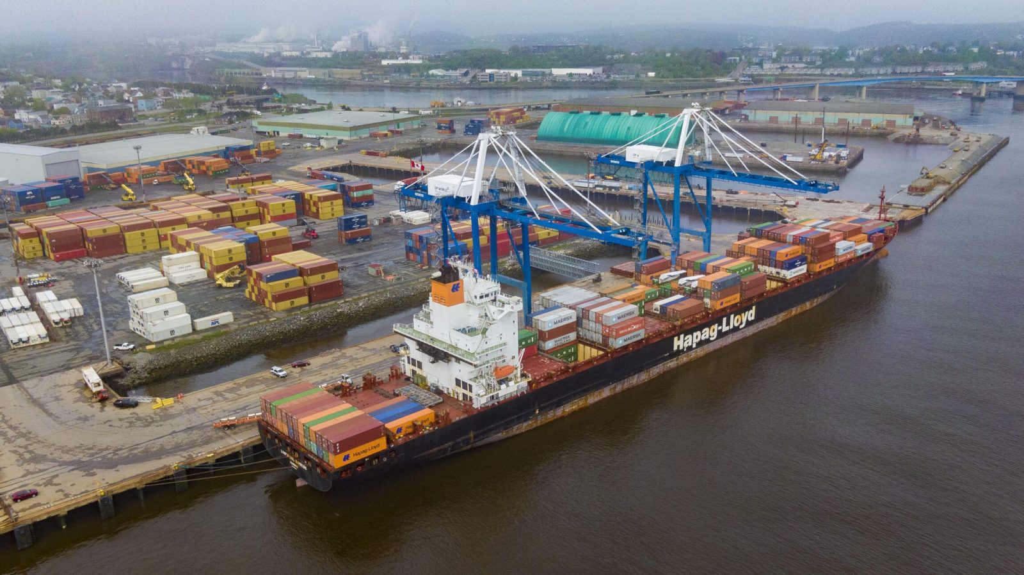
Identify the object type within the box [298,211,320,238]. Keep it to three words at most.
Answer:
work vehicle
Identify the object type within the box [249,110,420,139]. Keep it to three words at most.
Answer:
building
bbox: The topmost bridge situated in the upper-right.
[486,66,1024,114]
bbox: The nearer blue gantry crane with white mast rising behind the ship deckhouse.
[397,125,663,306]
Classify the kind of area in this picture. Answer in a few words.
port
